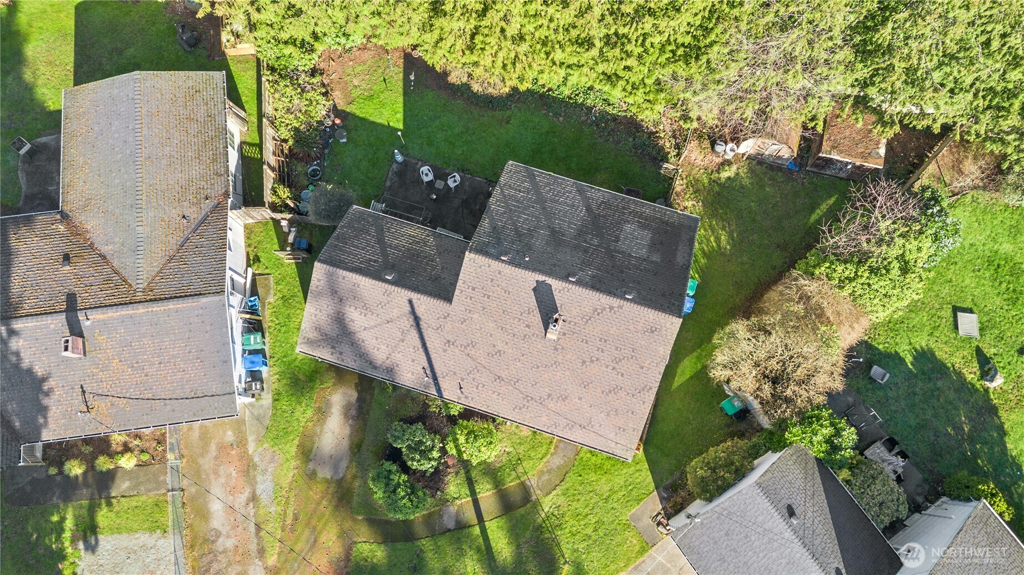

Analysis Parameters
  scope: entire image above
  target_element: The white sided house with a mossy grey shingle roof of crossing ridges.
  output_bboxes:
[0,65,260,470]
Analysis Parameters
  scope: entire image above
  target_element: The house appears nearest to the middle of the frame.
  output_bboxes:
[296,157,700,462]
